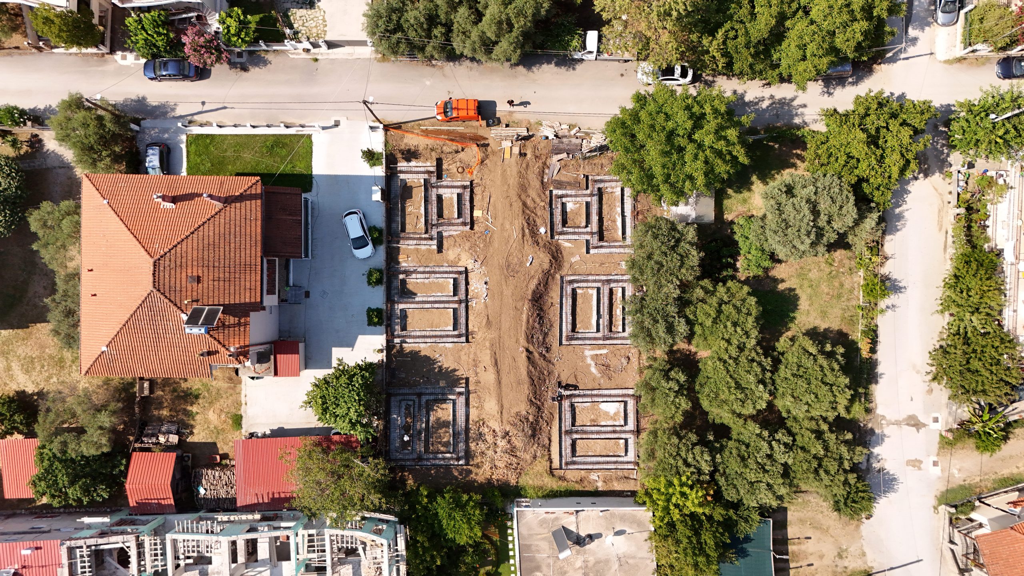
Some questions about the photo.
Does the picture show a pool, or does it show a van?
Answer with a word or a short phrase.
van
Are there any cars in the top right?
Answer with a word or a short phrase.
Yes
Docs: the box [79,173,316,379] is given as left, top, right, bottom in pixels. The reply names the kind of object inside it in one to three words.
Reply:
house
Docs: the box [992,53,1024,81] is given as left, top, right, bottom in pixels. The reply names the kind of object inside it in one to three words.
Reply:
car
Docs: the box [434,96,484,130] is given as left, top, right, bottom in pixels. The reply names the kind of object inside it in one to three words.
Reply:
van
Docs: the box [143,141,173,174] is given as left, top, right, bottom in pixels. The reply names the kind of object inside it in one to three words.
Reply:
car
